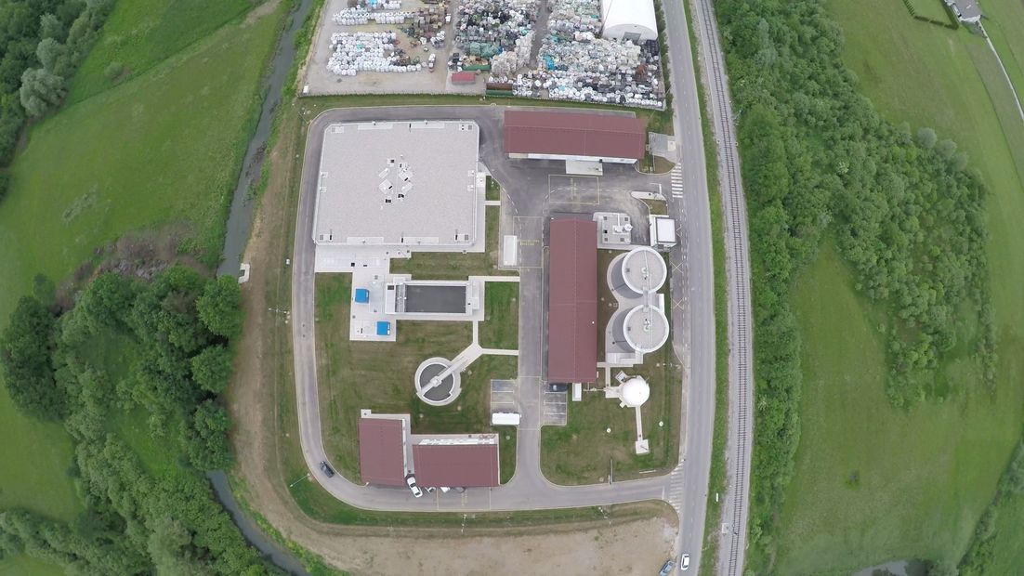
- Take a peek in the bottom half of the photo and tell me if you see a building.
Yes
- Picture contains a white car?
Yes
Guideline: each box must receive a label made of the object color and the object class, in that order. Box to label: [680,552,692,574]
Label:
white vehicle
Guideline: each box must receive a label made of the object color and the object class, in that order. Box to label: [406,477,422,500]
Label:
white car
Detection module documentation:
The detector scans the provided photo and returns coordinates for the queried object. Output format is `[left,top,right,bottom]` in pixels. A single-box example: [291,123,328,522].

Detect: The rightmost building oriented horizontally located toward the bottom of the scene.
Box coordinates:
[605,352,643,365]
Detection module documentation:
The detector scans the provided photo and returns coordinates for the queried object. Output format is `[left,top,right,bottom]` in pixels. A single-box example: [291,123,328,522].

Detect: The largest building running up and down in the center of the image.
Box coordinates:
[548,218,597,382]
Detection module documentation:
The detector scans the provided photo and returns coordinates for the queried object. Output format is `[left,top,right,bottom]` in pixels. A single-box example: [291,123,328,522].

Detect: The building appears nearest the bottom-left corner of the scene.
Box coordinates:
[360,418,407,489]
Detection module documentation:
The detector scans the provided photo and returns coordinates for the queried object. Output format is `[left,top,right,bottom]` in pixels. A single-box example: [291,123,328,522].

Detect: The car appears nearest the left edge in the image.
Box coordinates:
[317,460,335,481]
